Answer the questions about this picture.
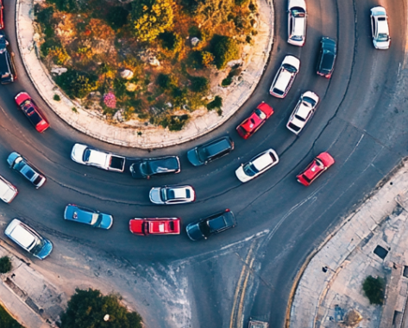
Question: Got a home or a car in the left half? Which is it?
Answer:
car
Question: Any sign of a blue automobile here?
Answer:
Yes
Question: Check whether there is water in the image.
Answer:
No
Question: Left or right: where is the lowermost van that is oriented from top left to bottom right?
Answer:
left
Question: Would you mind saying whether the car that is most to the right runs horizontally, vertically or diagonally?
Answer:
vertically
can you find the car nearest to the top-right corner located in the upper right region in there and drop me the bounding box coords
[367,5,392,51]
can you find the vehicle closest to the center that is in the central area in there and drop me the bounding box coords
[185,134,236,167]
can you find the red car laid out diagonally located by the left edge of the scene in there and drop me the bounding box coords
[12,89,53,136]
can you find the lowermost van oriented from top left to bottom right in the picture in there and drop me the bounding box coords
[2,217,54,260]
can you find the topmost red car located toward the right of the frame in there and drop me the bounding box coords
[232,101,276,139]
